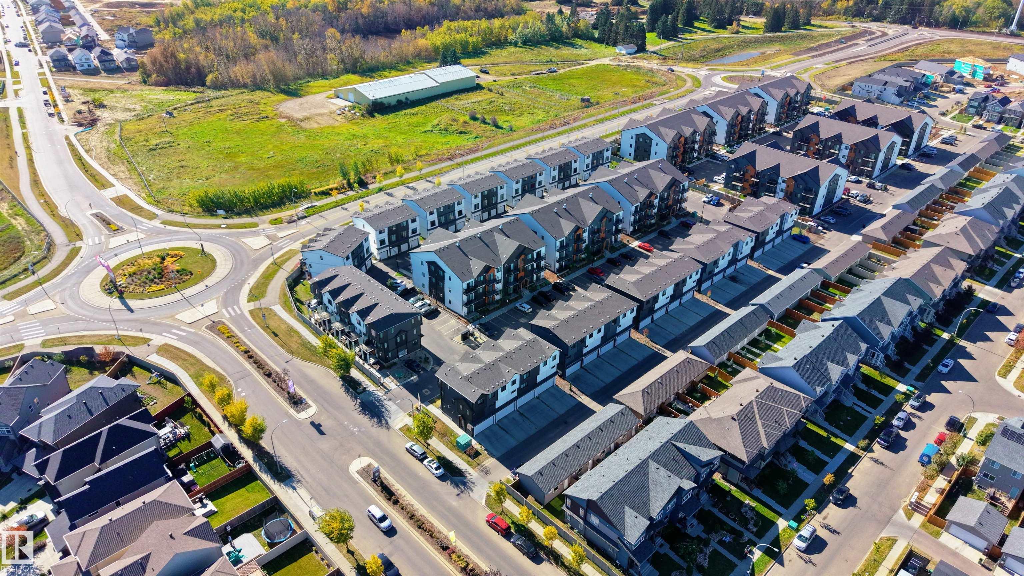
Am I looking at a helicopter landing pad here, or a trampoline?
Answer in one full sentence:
It is a trampoline that can be seen here.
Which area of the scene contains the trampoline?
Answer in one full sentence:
Look in the bottom left portion of the view to spot the trampoline.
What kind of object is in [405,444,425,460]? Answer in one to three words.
car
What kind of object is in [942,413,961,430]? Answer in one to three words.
vehicle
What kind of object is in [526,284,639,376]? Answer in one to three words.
house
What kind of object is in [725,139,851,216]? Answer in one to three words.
building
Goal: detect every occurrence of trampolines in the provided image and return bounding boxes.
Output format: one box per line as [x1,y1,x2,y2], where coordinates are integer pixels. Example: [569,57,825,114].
[251,513,278,539]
